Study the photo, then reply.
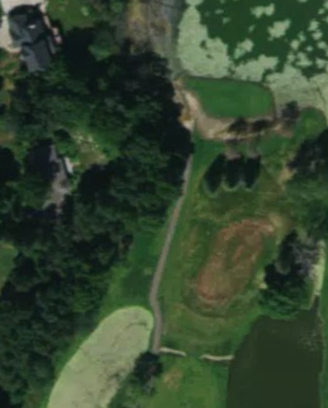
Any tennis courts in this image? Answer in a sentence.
No, I can't see a single tennis court in this photo.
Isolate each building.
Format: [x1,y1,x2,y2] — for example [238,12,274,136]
[3,3,57,72]
[28,135,72,207]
